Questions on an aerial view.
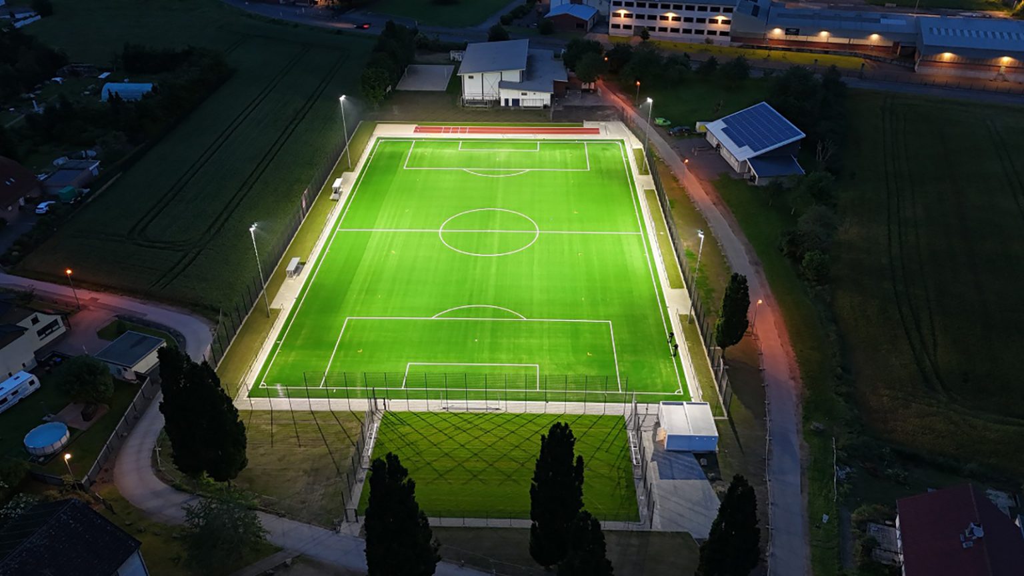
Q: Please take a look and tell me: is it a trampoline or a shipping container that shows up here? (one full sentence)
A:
There is a shipping container in the scene.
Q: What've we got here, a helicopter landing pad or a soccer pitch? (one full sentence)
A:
There is a soccer pitch in the scene.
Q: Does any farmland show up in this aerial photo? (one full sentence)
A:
Yes, farmland shows up in the scene.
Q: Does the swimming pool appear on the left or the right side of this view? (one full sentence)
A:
It is on the left.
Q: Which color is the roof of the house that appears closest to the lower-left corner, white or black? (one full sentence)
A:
In this view, the roof of the house that appears closest to the lower-left corner is black.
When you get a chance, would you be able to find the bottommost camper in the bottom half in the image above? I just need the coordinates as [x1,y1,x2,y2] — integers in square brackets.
[0,372,37,411]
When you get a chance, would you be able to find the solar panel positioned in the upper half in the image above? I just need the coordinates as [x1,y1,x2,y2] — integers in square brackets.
[722,103,802,153]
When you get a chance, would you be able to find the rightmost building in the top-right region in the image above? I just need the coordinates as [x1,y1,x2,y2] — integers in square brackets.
[915,16,1024,81]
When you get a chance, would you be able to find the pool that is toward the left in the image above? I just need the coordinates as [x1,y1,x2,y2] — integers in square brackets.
[23,421,73,457]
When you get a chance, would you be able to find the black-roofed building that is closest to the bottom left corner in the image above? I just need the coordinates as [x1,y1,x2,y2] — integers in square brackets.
[0,499,141,576]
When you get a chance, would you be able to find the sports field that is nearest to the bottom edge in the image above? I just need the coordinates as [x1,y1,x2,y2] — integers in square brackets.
[357,411,641,520]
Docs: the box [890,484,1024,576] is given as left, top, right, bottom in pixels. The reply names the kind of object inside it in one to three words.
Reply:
house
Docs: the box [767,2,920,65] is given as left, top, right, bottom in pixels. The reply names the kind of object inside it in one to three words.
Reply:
building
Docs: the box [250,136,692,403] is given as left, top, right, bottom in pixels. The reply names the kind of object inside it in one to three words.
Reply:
soccer field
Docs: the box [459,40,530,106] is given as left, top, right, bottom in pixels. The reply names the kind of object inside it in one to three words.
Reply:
building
